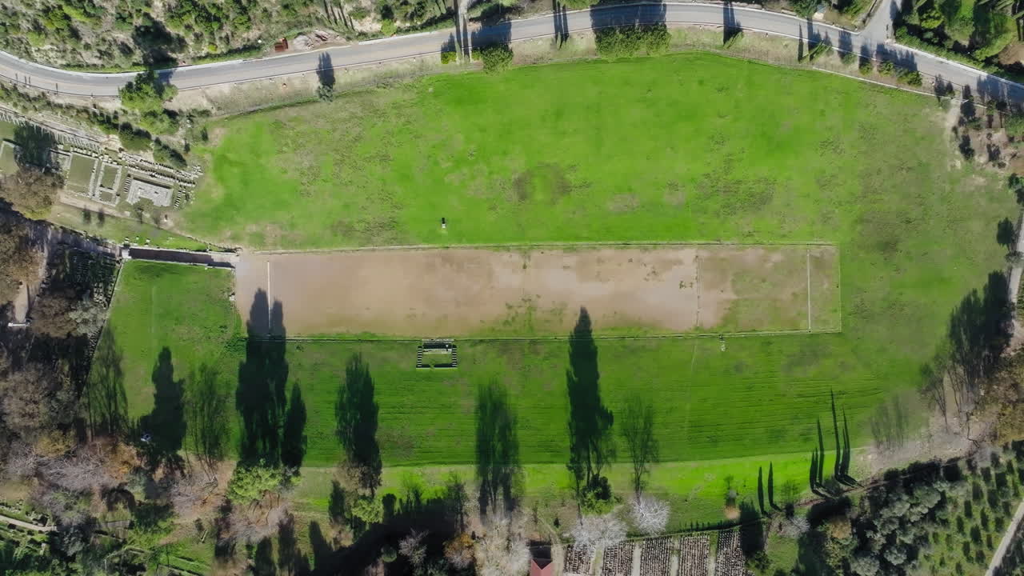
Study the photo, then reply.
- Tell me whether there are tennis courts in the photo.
No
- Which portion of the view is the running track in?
center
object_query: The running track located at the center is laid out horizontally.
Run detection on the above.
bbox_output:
[243,244,840,339]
